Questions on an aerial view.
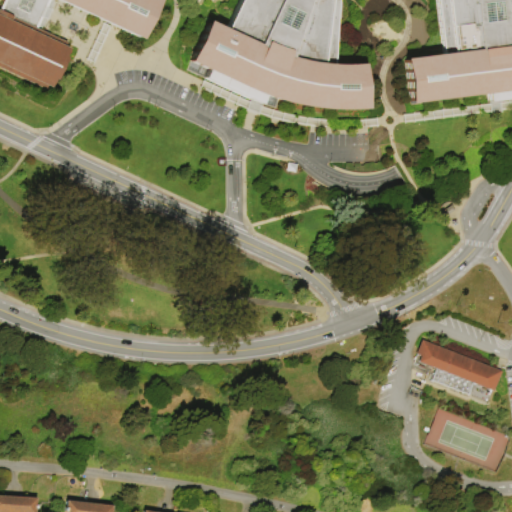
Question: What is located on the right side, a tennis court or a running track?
tennis court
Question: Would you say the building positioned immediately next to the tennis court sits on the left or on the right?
right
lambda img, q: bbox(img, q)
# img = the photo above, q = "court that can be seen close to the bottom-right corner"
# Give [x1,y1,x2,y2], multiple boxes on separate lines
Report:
[426,408,508,472]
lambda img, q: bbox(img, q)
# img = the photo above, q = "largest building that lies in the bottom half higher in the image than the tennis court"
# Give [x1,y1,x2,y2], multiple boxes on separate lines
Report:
[414,338,504,390]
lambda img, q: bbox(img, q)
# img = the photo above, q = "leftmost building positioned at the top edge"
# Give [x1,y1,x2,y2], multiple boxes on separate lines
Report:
[0,0,72,87]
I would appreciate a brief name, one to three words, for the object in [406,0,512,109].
building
